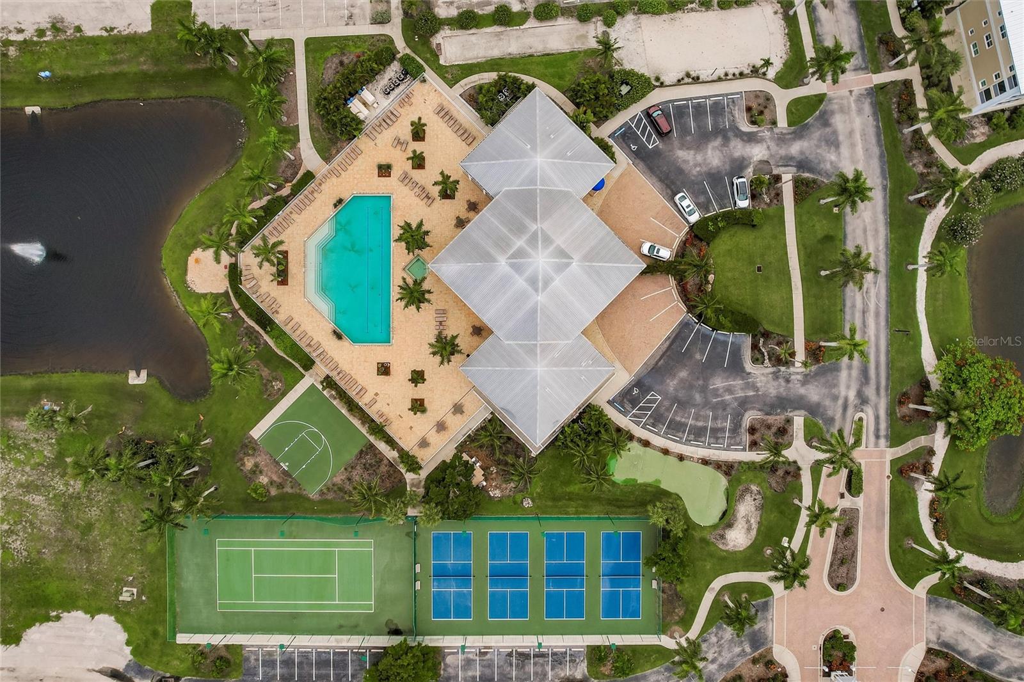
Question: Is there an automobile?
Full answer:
Yes, this view includes an automobile.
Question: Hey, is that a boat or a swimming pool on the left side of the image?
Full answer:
The one visible on the left side of the image is a swimming pool.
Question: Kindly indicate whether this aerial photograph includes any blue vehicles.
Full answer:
No, the photo shows no blue vehicle.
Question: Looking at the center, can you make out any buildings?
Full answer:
Yes, a building can be seen at the center.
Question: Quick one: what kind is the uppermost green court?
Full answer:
What you see as the uppermost green court is a basketball court.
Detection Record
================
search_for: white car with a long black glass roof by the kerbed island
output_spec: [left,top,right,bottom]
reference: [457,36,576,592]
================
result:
[732,176,750,209]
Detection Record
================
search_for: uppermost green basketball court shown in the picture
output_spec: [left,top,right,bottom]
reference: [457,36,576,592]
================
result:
[258,385,370,495]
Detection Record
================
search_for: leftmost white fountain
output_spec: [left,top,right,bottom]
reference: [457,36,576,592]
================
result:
[12,242,49,259]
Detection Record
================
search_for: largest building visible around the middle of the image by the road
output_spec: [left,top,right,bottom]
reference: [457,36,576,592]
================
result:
[428,87,646,456]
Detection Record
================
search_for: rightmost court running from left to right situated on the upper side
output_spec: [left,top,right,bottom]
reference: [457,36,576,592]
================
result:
[611,0,789,86]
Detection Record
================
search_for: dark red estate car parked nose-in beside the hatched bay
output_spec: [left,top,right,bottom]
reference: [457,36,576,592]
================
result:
[647,105,671,137]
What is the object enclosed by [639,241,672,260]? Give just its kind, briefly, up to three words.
car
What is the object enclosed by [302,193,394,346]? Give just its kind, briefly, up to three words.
swimming pool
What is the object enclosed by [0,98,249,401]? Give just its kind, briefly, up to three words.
pond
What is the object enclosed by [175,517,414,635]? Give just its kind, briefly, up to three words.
tennis court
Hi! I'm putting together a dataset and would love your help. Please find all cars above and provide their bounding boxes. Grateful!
[647,105,671,137]
[732,176,750,209]
[639,241,672,260]
[675,191,700,223]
